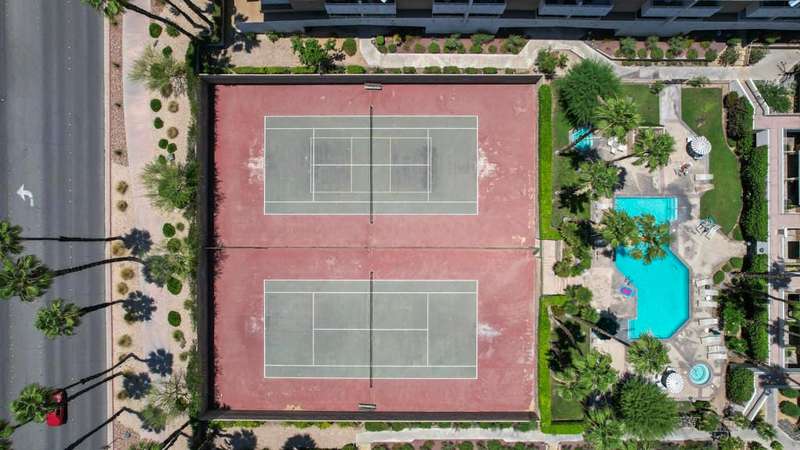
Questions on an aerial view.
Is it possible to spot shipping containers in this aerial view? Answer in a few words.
No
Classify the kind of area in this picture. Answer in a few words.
sports ground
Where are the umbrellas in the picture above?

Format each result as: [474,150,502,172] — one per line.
[687,135,710,158]
[662,370,683,391]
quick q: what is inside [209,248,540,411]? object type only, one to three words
tennis court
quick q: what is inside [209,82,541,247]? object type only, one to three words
tennis court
